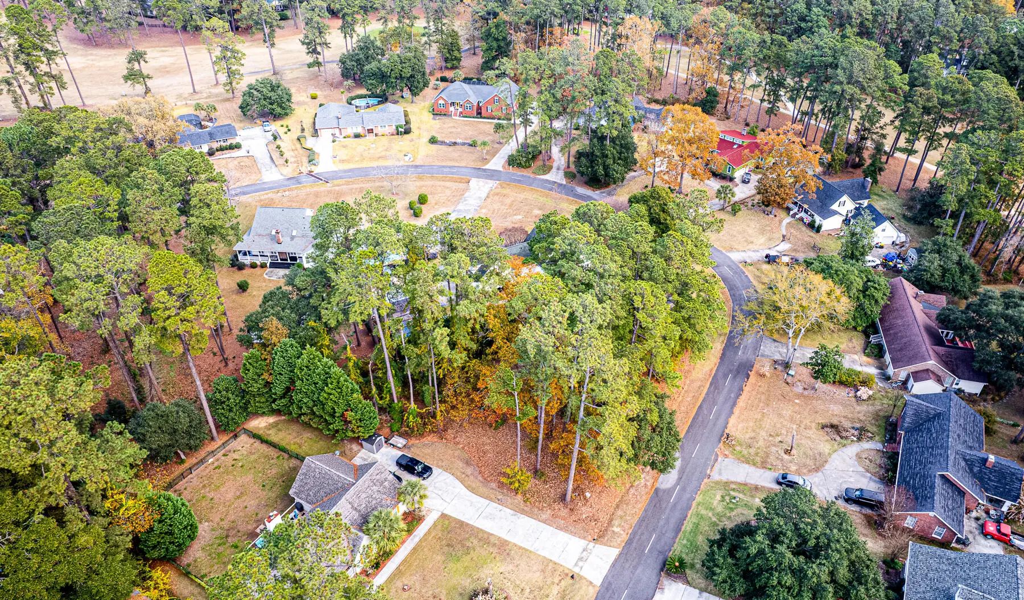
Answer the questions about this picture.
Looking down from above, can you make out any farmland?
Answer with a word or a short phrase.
No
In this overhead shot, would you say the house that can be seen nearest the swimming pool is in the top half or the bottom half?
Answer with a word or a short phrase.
top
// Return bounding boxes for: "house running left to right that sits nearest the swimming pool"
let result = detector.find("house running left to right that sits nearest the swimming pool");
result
[314,103,407,138]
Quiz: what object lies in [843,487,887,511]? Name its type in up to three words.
car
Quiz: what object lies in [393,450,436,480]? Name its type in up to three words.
truck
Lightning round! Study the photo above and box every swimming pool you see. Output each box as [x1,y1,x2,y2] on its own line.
[349,95,384,113]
